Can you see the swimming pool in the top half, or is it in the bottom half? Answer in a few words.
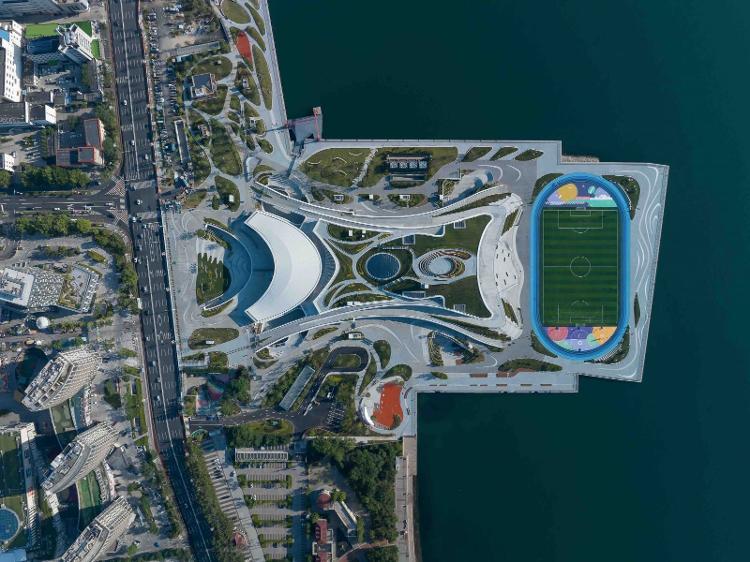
bottom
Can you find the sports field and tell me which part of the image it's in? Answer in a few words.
right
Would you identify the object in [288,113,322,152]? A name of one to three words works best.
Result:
pier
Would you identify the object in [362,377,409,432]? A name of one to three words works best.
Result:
playground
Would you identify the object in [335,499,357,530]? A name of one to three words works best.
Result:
house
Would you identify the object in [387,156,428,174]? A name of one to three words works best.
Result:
building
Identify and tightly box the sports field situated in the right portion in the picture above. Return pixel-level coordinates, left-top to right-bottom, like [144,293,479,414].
[531,171,631,361]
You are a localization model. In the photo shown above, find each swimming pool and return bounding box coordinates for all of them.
[0,506,21,547]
